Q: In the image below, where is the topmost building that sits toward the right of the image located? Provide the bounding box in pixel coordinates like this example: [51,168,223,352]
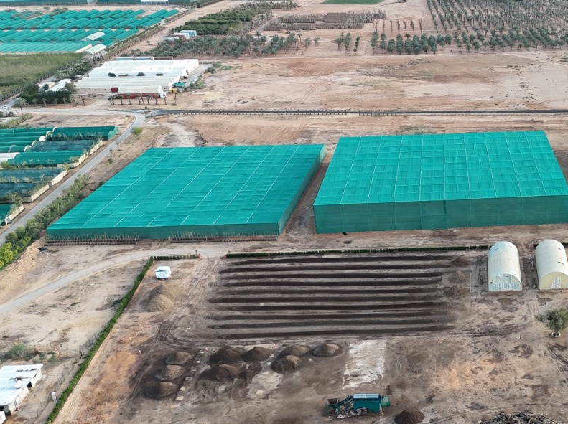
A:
[314,130,568,232]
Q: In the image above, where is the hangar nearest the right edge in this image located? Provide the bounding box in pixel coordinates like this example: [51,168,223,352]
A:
[535,236,568,289]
